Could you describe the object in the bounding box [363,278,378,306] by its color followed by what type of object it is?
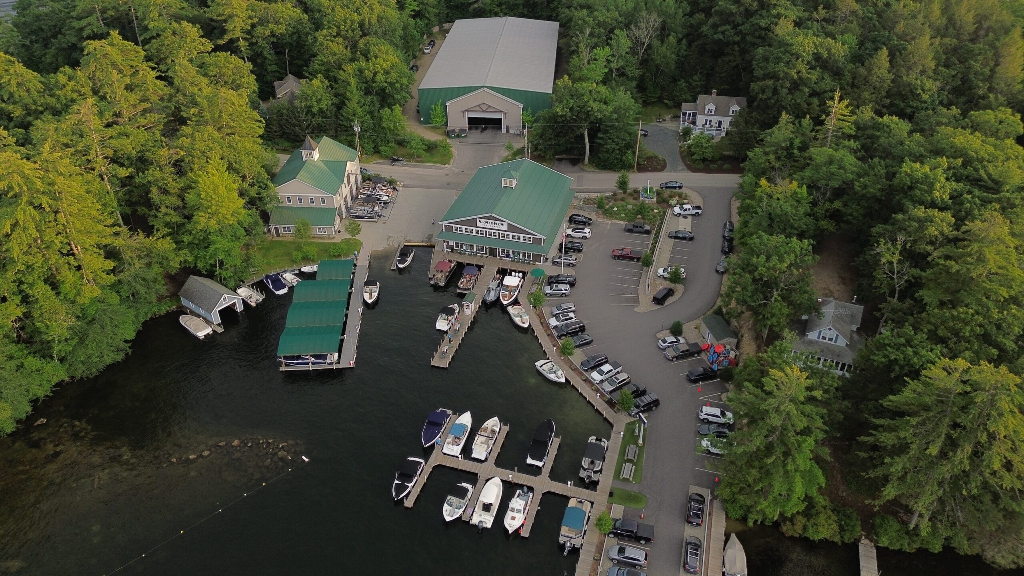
white boat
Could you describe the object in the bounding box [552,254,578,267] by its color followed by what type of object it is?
gray vehicle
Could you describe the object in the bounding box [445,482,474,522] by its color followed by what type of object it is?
white boat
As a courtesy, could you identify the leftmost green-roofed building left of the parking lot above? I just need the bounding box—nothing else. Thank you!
[265,128,361,237]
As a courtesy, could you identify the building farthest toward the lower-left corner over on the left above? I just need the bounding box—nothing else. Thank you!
[178,275,244,328]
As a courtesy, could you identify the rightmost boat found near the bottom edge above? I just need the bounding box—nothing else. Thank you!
[724,535,749,576]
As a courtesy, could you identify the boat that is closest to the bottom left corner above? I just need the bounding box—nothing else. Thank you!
[179,316,214,341]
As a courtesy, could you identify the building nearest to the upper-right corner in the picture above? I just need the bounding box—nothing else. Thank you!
[680,90,746,131]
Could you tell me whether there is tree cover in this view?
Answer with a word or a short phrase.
Yes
